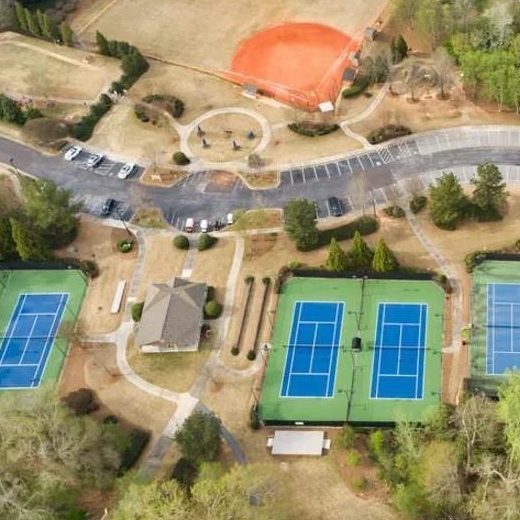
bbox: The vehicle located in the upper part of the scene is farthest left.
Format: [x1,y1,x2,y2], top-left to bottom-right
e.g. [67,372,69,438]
[65,146,82,160]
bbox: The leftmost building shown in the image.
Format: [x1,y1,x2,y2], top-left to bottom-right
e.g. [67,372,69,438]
[133,271,214,353]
